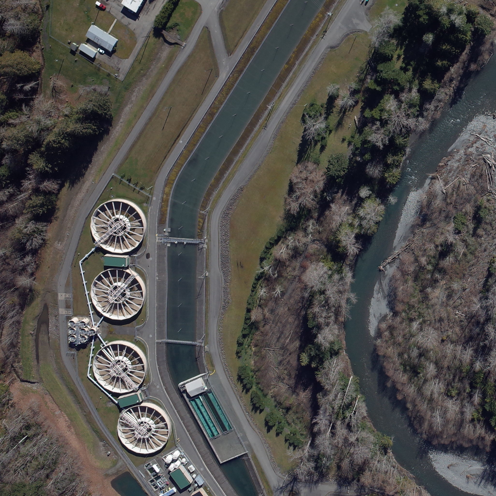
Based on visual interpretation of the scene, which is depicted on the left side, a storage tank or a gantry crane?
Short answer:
storage tank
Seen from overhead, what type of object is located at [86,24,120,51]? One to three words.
house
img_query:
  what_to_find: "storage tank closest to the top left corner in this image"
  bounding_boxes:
[91,197,150,252]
